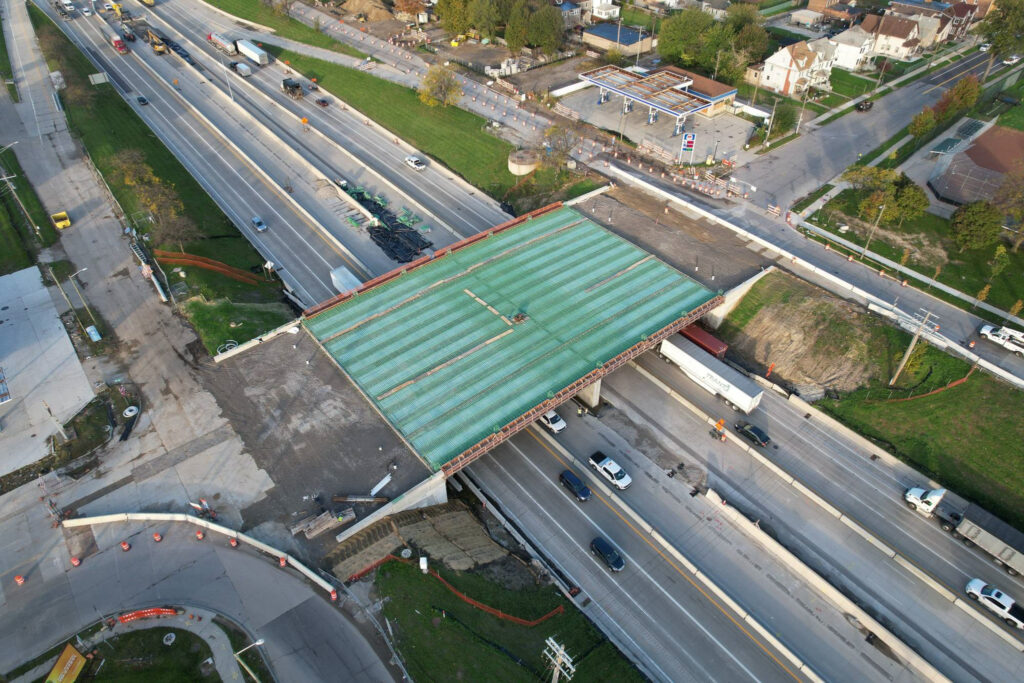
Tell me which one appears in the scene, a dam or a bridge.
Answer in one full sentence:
Of the two, only a bridge appears.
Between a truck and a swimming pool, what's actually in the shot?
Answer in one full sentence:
I can see a truck in this picture.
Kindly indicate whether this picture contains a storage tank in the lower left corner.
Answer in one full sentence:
No, no storage tank is visible in the lower left corner.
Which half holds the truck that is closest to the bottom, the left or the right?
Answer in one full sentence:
You can find the truck that is closest to the bottom on the right side of the picture.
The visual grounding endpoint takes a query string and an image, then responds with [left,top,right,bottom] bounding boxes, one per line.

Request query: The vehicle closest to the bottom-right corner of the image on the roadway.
[961,575,1024,633]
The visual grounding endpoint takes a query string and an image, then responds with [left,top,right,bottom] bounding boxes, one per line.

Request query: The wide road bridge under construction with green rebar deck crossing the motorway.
[300,199,729,482]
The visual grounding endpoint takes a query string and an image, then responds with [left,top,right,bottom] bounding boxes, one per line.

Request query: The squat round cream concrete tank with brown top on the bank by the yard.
[509,150,537,179]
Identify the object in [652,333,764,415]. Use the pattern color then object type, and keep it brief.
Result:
white truck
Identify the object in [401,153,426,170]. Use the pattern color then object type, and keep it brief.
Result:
white vehicle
